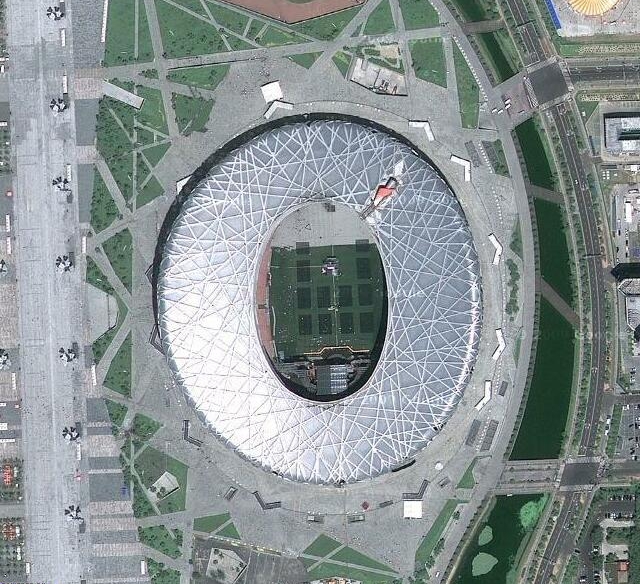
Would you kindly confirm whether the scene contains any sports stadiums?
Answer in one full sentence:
Yes, the image includes a sports stadium.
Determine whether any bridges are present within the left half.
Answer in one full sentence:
No, I see no bridge within the left half.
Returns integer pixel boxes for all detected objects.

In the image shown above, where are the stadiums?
[159,121,482,483]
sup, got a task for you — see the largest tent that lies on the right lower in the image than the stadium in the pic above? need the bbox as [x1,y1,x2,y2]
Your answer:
[403,501,422,518]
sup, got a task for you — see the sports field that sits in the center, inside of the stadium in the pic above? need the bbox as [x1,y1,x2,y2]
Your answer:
[272,200,384,399]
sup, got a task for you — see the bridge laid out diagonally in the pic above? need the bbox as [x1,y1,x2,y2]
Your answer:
[534,276,582,327]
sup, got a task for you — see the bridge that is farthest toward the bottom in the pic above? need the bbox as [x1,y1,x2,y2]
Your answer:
[499,458,563,494]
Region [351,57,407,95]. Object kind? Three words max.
building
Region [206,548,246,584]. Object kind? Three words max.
building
